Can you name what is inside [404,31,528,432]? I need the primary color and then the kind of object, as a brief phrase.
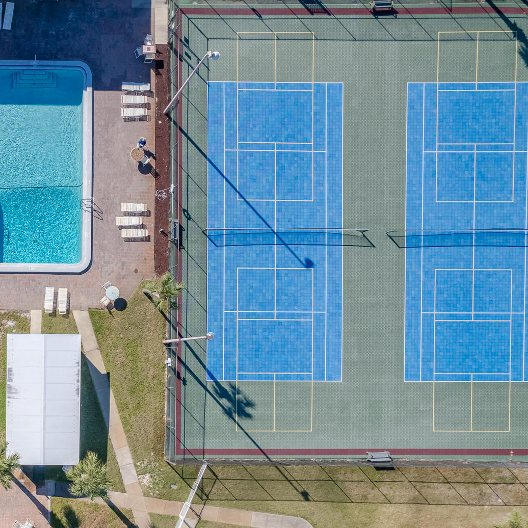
blue tennis court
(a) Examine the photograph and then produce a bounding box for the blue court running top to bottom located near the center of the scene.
[207,32,344,432]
